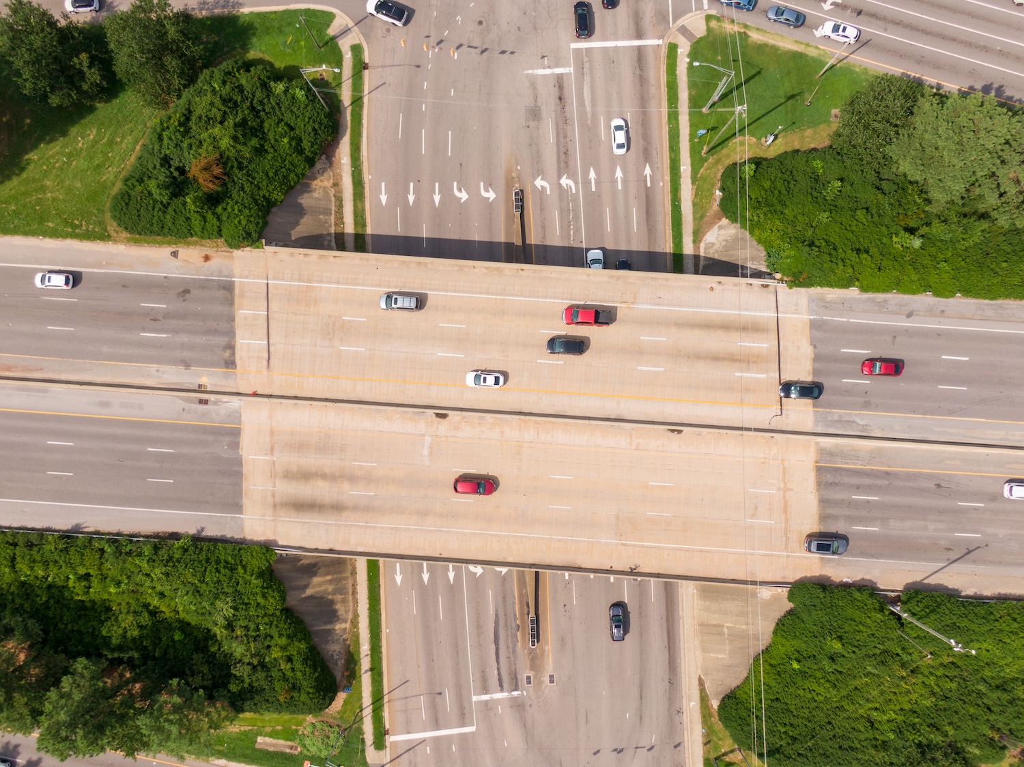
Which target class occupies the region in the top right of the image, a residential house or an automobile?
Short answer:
automobile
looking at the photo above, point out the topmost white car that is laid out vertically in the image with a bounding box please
[610,117,627,155]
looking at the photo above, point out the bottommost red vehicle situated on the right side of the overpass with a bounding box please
[860,358,904,377]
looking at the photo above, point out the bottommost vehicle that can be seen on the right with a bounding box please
[609,603,626,642]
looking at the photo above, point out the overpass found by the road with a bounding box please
[234,241,818,586]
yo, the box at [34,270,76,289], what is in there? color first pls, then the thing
white car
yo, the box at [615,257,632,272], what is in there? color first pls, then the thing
black car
